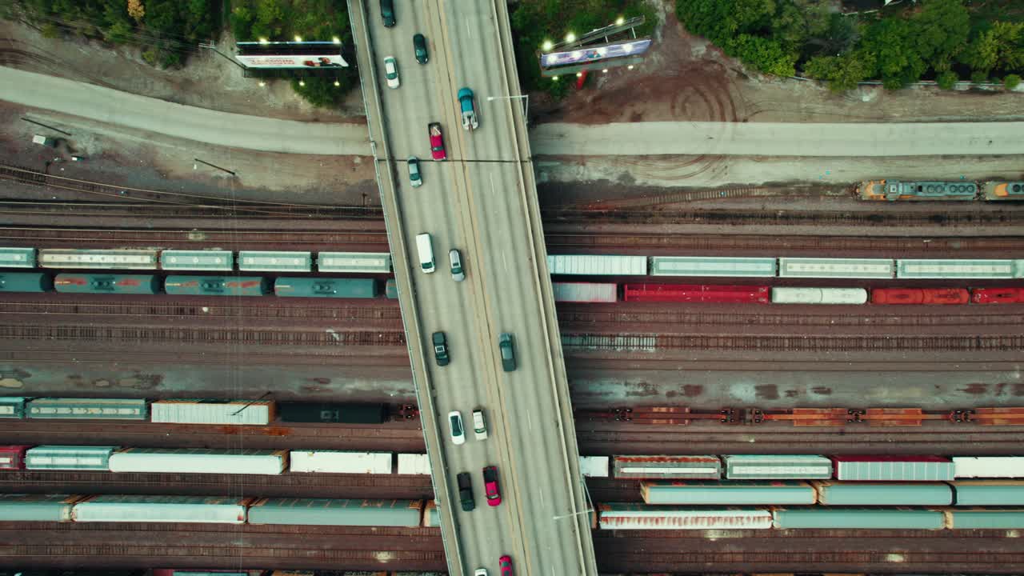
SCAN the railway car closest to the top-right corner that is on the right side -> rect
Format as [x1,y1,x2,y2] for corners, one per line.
[972,179,1024,199]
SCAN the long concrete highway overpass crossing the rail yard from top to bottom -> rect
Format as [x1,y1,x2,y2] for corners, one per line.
[346,0,599,576]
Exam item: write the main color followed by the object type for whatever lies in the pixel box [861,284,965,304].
red rail car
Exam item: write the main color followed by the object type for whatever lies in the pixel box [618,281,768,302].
red rail car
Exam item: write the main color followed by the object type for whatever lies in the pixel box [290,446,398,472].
white rail car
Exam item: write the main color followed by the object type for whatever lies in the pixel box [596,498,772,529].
white rail car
